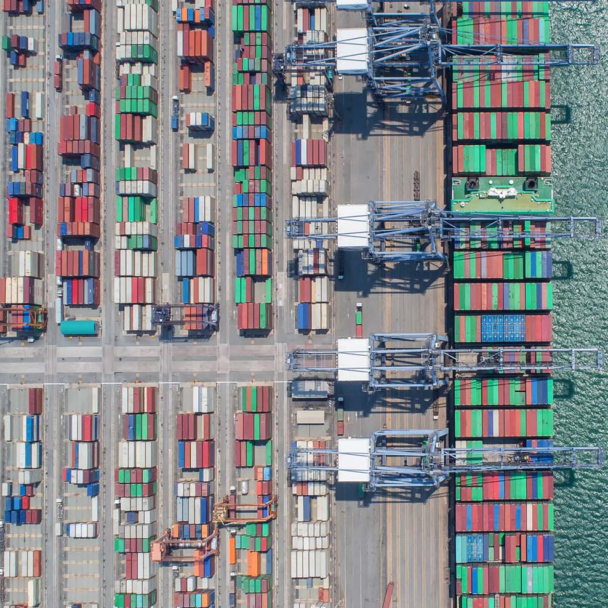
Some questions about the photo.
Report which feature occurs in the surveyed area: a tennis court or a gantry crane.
gantry crane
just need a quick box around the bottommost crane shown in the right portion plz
[280,421,603,491]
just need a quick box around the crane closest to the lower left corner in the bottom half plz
[148,527,217,562]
